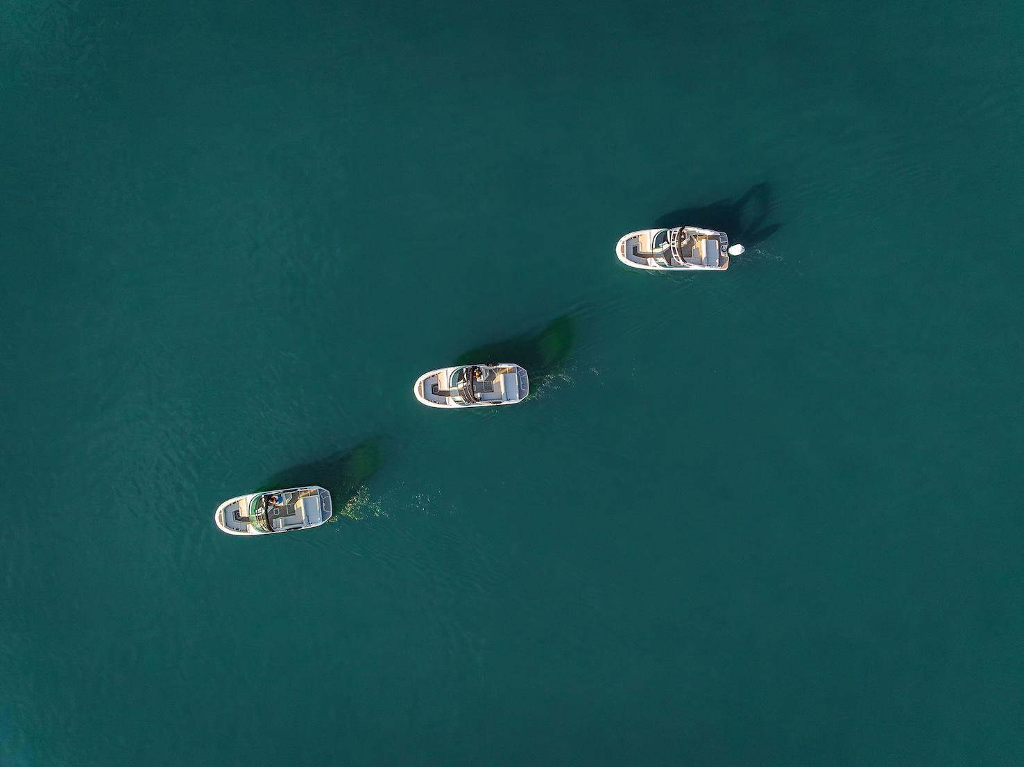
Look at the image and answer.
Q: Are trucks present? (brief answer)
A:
No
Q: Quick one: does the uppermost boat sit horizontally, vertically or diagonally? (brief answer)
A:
horizontally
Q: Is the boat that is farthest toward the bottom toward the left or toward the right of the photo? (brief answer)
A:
left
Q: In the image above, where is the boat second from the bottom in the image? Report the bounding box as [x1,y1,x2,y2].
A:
[414,358,529,412]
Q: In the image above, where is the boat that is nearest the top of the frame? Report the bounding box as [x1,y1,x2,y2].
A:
[616,227,745,271]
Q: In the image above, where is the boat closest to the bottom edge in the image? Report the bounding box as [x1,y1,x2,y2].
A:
[215,486,332,535]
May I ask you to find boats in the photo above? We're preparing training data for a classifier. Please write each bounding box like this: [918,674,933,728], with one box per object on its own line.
[414,358,529,412]
[616,227,745,271]
[215,486,332,535]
